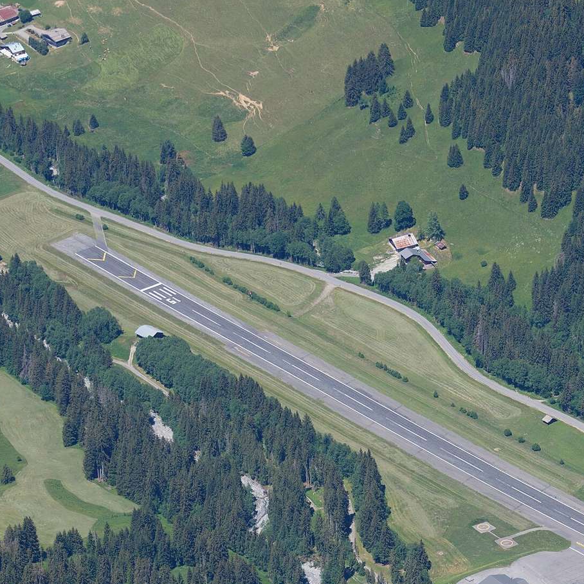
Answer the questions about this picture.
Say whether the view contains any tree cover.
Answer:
Yes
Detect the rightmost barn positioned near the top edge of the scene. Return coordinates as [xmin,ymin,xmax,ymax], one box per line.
[46,28,72,48]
